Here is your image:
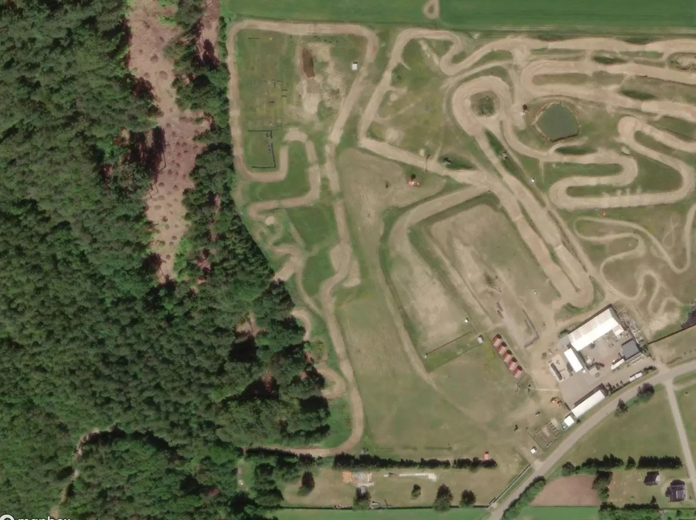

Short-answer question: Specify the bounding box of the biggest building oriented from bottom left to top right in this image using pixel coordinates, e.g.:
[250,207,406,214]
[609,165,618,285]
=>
[568,309,621,350]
